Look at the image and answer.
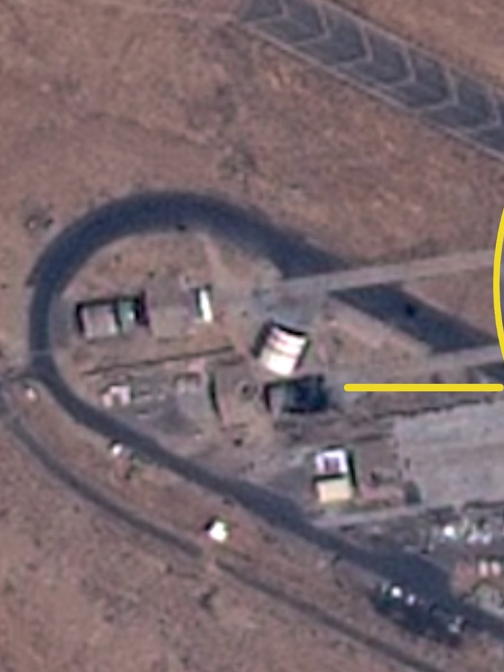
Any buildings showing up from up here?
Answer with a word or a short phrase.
Yes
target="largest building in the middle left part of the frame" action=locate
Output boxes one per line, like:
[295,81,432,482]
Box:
[83,302,118,338]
